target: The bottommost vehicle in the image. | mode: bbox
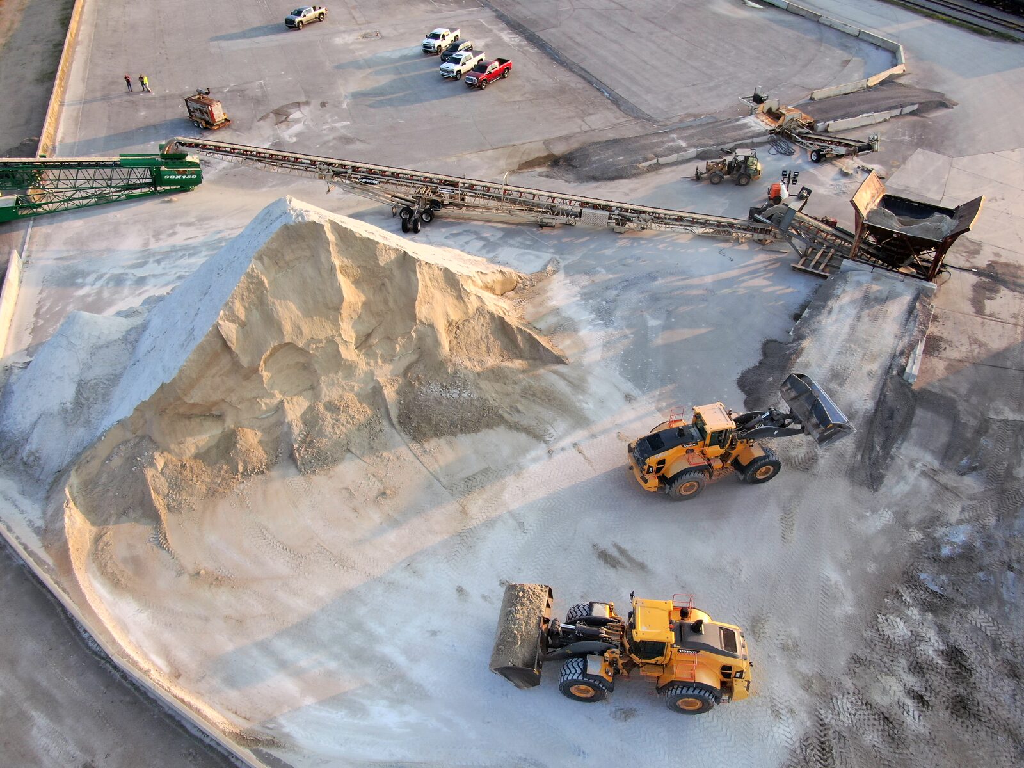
[484,587,754,723]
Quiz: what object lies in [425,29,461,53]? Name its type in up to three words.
truck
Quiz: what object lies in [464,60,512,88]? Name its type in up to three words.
truck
